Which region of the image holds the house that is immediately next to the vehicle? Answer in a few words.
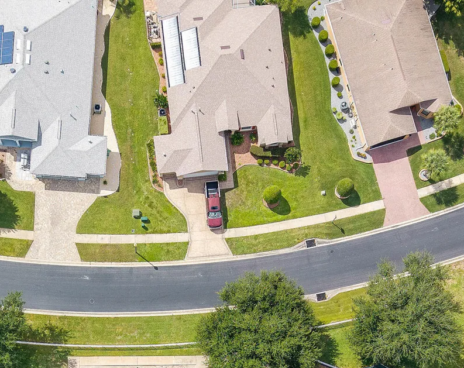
top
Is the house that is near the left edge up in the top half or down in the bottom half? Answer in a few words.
top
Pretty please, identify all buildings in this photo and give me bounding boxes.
[0,0,107,181]
[153,0,295,179]
[322,0,451,153]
